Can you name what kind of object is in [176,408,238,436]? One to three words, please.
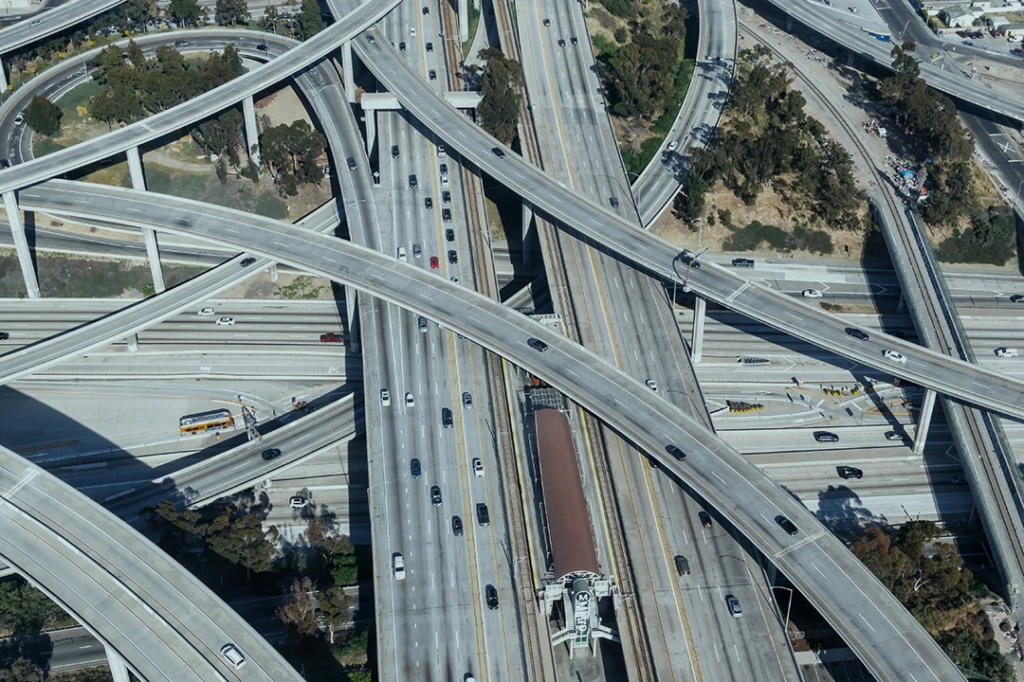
bus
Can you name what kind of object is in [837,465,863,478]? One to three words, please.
vehicle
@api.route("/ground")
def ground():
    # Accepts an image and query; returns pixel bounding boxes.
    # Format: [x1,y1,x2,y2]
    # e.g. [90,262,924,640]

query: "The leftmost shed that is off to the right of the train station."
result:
[791,640,812,666]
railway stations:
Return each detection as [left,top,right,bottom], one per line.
[512,311,620,659]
